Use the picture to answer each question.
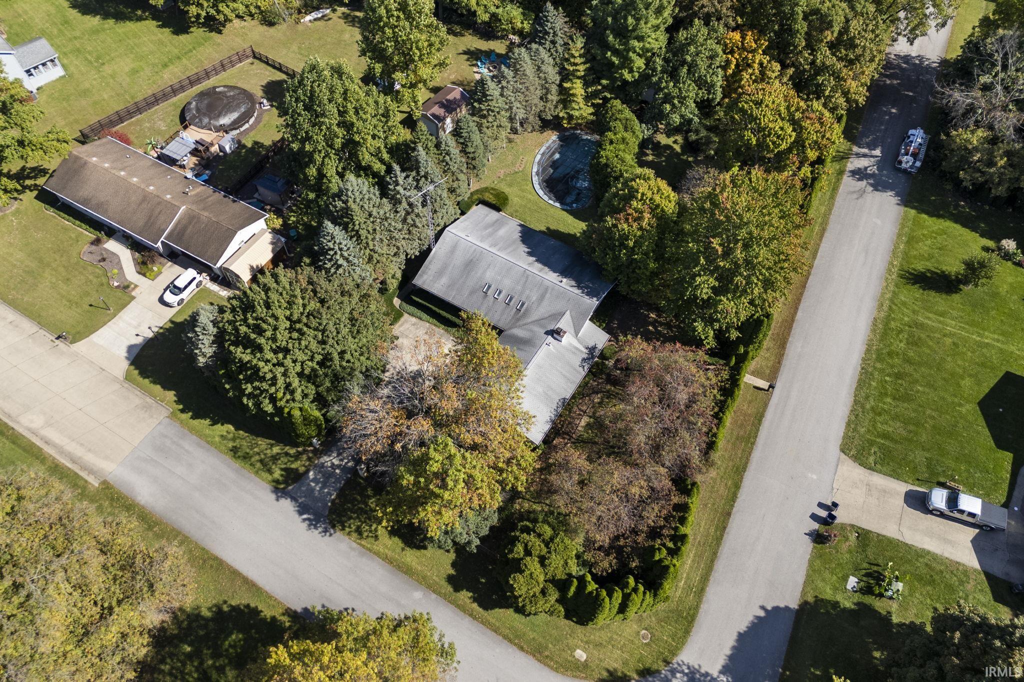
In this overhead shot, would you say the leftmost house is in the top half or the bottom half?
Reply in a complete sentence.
The leftmost house is in the top half of the image.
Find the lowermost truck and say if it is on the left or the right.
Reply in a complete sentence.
You can find the lowermost truck on the right side of the picture.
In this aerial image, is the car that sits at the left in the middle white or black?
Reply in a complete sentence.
The car that sits at the left in the middle is white.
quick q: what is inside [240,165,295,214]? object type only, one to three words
gazebo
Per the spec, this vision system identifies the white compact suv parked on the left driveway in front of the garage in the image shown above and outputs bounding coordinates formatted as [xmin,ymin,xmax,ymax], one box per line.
[158,268,204,310]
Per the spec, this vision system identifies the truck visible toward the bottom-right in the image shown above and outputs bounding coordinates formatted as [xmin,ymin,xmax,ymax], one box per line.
[926,488,1013,536]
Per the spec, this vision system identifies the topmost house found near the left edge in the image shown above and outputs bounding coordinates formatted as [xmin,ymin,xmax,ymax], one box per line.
[0,35,71,94]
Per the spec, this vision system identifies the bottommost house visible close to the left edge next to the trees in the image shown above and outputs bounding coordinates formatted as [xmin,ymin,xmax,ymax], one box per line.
[42,137,272,287]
